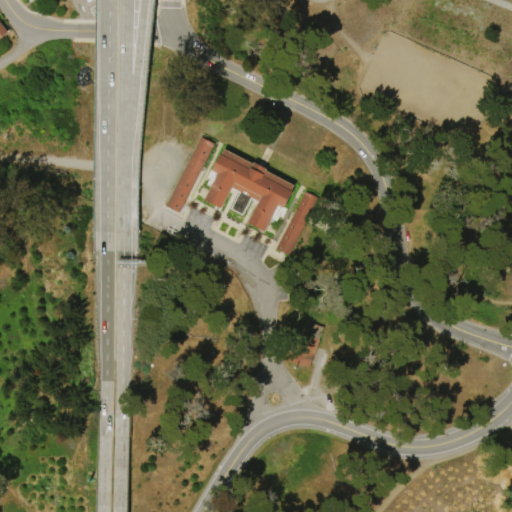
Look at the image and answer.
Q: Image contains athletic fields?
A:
Yes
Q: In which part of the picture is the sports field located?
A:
top right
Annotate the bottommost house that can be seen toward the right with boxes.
[290,326,325,369]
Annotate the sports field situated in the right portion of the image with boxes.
[360,30,496,126]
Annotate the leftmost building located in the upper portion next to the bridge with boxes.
[168,138,214,212]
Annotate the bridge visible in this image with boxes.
[92,0,154,259]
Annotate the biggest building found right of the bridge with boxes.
[206,149,295,230]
